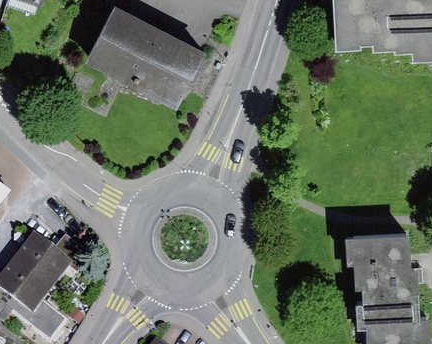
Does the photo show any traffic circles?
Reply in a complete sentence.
Yes, this view includes a traffic circle.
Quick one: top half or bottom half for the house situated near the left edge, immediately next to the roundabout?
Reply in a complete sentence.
You can find the house situated near the left edge, immediately next to the roundabout in the bottom half.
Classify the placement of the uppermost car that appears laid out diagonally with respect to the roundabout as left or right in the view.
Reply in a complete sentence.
Looking at the picture, you'll find the uppermost car that appears laid out diagonally to the left of the roundabout.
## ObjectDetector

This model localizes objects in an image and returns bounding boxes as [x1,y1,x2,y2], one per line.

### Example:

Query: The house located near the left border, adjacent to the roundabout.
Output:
[0,230,77,340]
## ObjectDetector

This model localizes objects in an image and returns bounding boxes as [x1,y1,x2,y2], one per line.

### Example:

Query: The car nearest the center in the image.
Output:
[232,139,244,164]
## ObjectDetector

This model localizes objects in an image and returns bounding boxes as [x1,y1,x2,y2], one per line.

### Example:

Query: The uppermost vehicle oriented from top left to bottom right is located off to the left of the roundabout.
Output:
[46,196,68,219]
